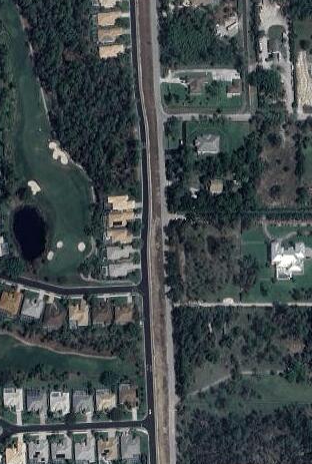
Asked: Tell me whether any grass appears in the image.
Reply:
Yes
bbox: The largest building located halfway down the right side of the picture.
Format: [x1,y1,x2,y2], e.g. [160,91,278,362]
[272,239,305,277]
